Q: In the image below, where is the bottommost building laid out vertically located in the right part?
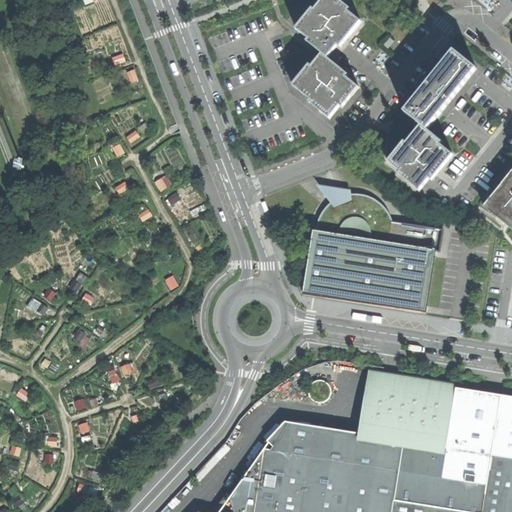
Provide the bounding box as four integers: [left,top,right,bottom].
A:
[484,168,512,230]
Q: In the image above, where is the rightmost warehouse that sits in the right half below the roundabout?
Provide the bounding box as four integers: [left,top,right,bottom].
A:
[219,370,512,512]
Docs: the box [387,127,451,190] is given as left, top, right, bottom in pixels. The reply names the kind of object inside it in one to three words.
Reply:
building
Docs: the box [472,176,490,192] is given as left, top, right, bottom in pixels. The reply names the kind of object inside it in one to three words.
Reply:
vehicle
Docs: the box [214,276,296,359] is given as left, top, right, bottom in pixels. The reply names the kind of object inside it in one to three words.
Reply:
roundabout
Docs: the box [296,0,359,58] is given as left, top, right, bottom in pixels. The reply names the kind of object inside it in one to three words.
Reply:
building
